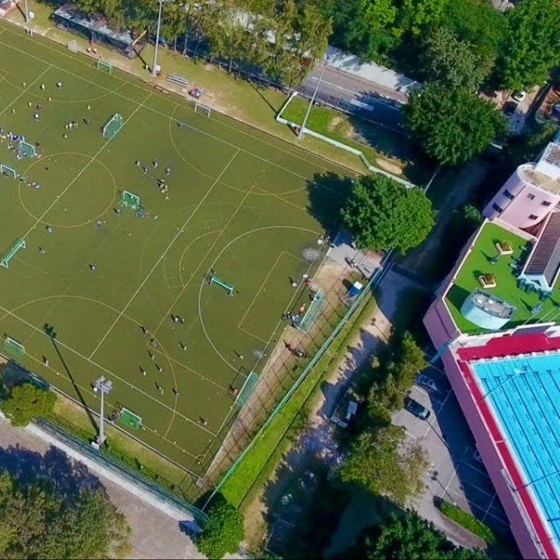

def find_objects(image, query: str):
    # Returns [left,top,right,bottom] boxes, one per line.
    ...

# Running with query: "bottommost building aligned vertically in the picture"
[414,208,560,560]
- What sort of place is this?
sports ground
